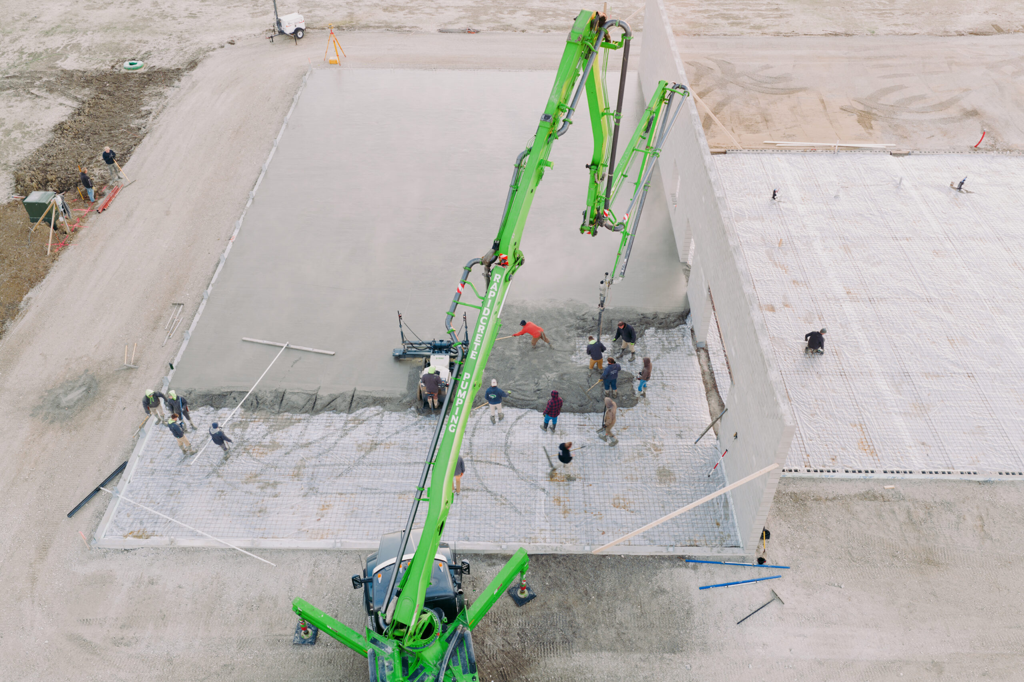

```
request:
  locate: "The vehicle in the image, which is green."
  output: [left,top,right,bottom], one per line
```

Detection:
[290,3,689,682]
